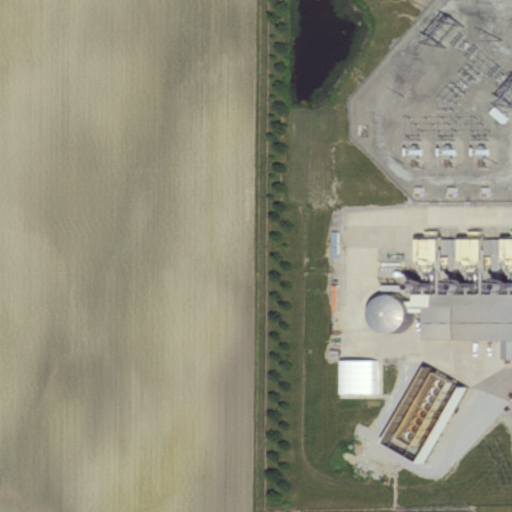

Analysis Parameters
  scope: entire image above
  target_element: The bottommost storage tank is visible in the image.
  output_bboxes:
[364,294,414,333]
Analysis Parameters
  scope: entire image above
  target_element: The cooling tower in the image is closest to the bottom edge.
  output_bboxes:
[380,368,467,461]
